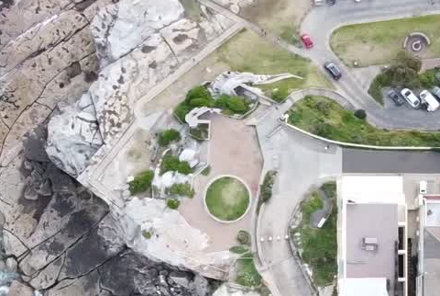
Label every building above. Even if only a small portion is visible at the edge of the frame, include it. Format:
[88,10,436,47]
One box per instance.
[410,194,440,296]
[335,174,408,296]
